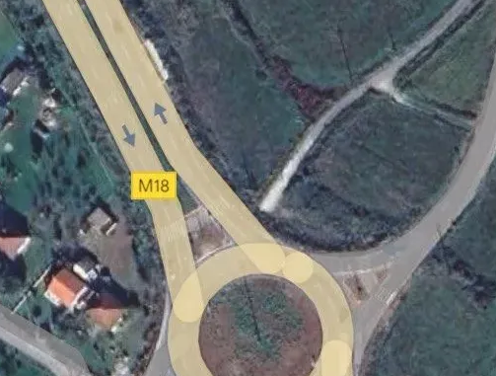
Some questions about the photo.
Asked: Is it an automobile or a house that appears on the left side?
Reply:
house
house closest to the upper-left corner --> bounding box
[0,66,27,95]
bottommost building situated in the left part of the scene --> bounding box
[85,293,124,328]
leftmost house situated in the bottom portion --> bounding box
[0,223,28,258]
